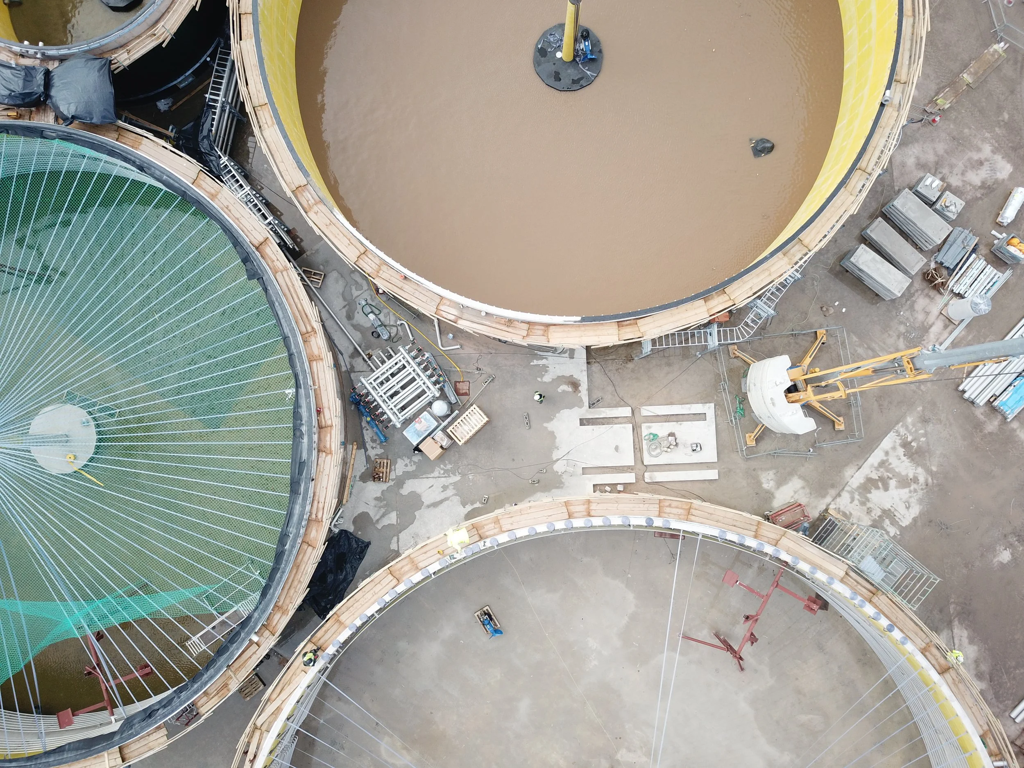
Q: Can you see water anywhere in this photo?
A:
Yes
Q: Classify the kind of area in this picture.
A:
industrial area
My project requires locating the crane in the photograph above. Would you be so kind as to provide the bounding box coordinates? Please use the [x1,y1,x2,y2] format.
[726,329,1024,448]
